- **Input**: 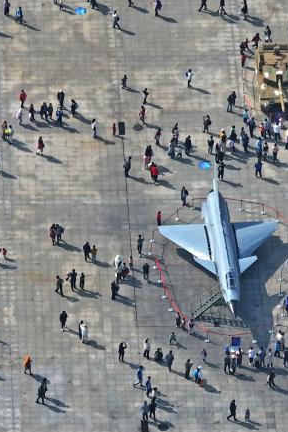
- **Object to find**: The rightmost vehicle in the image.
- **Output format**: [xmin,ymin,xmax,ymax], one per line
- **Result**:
[255,38,288,112]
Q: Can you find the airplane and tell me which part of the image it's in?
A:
right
